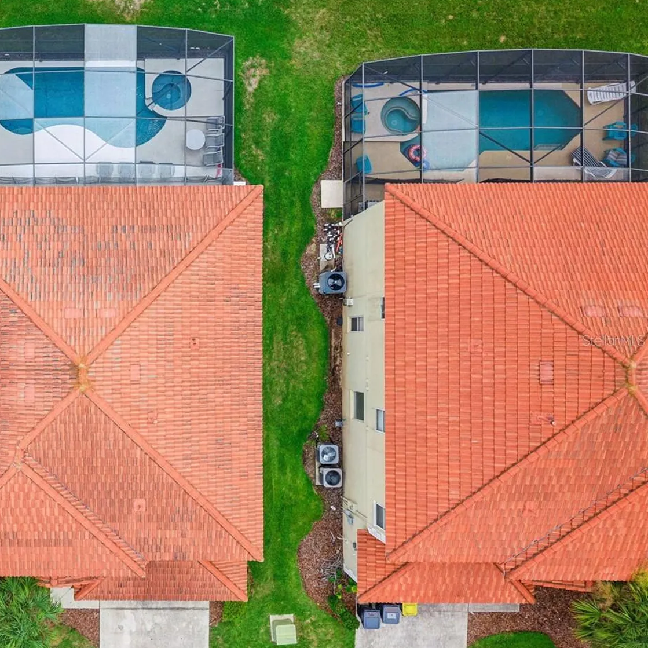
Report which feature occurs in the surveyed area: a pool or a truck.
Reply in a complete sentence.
It is a pool that can be seen here.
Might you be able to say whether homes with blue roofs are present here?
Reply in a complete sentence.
No, the scene contains no home with a blue roof.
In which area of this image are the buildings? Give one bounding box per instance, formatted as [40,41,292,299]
[341,179,648,606]
[0,182,267,605]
